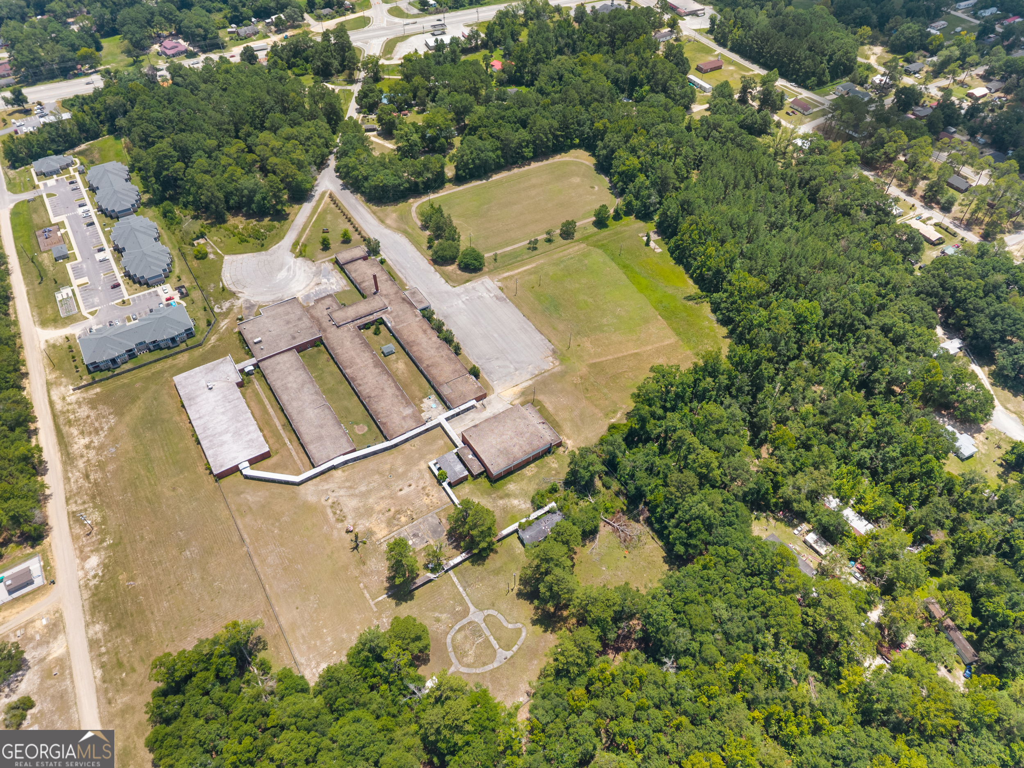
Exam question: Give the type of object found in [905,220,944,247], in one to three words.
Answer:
house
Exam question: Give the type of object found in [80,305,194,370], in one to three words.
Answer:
building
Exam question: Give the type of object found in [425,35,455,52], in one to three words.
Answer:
building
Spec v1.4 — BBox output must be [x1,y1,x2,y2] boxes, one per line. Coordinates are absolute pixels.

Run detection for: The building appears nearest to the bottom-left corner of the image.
[2,564,37,586]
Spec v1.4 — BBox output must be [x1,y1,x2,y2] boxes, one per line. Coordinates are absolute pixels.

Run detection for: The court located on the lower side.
[397,514,446,549]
